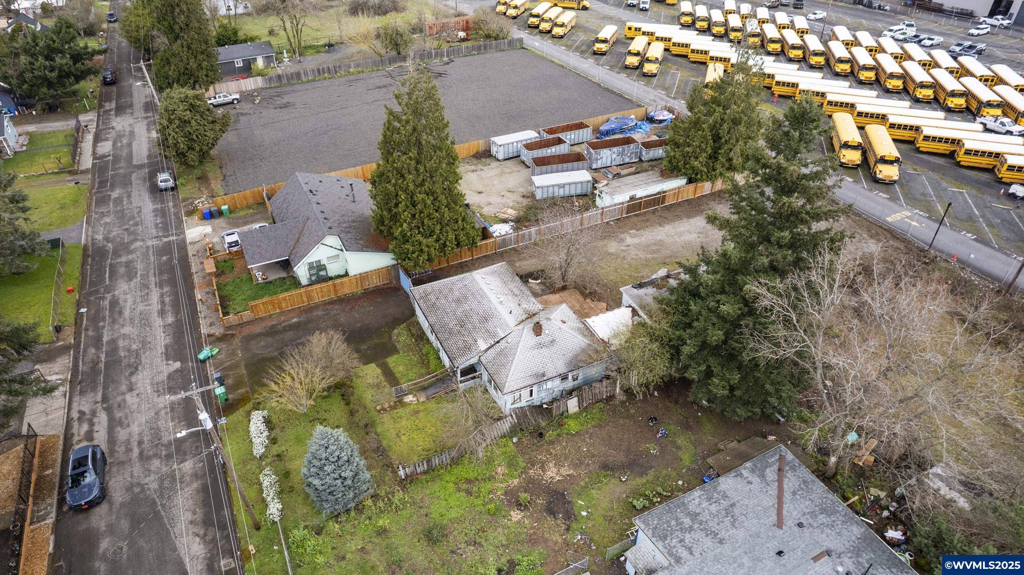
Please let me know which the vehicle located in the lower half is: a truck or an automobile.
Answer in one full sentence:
The vehicle located in the lower half appears to be an automobile.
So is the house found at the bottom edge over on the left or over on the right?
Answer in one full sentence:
The house found at the bottom edge sits on the right side.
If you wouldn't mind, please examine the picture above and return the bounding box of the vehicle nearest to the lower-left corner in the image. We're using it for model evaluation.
[53,437,104,515]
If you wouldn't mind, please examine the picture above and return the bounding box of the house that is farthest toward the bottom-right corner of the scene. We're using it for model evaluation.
[619,445,922,575]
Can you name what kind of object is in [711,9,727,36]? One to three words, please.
vehicle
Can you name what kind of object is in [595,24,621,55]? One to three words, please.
bus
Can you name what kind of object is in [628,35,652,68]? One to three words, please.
bus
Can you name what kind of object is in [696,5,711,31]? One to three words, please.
vehicle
